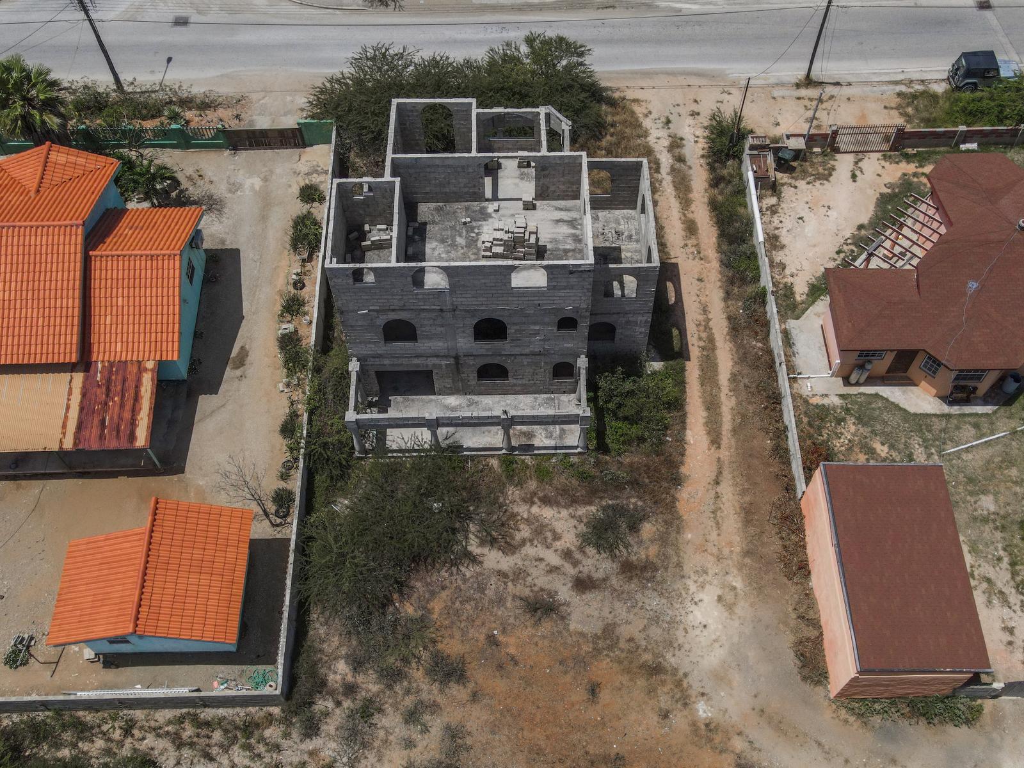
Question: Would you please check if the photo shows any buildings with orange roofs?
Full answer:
Yes, the frame does contain a building with an orange roof.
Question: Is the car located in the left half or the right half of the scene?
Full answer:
You can find the car on the right side of the picture.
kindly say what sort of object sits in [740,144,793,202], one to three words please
building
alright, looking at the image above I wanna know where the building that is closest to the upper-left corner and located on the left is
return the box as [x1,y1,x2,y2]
[0,137,209,379]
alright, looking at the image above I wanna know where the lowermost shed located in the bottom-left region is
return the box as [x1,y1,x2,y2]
[44,498,254,654]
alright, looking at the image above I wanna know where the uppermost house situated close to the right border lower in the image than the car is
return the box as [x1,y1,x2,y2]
[819,152,1024,404]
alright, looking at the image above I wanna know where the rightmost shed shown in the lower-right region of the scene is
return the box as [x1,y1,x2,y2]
[800,462,991,695]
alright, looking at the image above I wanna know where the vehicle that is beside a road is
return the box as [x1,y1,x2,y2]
[946,41,1024,85]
